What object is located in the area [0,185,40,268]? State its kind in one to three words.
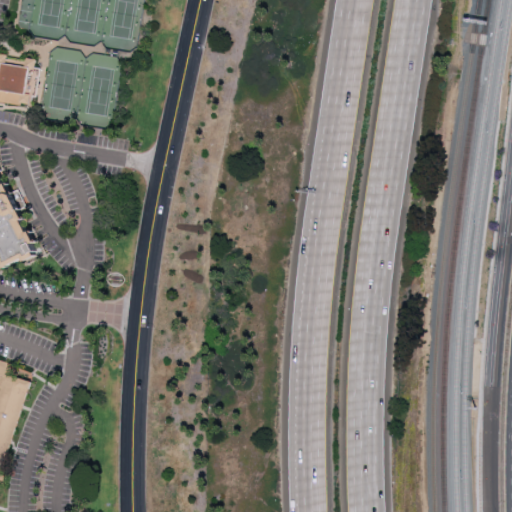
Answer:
building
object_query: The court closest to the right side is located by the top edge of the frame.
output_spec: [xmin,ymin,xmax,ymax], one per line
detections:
[102,0,144,51]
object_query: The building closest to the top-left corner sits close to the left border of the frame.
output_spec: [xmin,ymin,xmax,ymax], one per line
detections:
[0,55,39,104]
